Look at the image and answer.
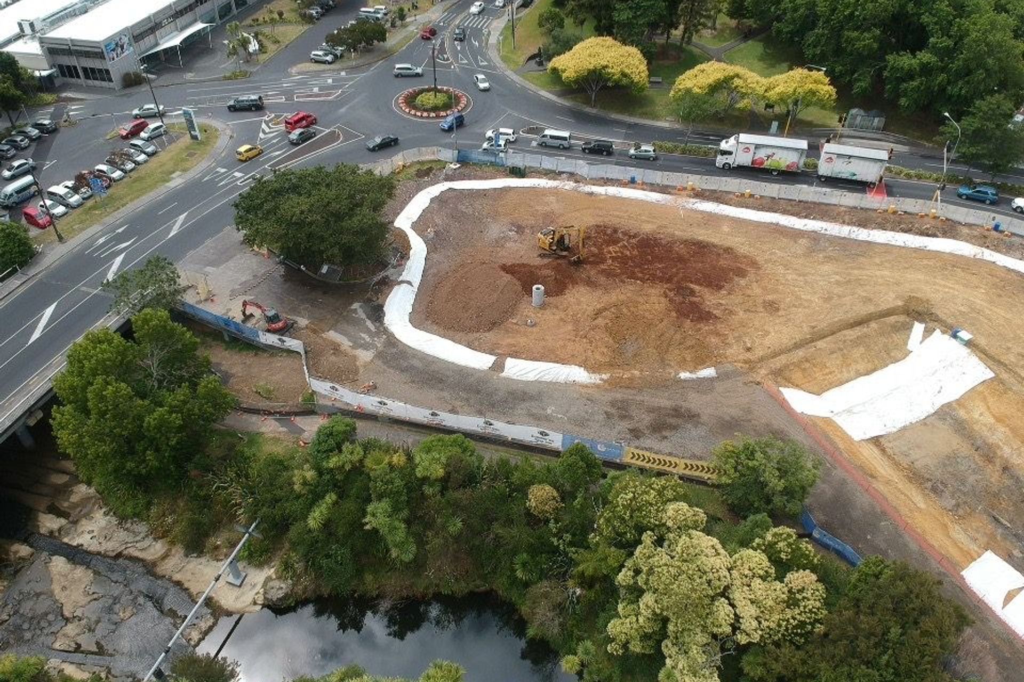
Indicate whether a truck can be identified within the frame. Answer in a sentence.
Yes, you can see a truck in this photo.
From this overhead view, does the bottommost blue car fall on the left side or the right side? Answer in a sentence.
The bottommost blue car is on the right side of the image.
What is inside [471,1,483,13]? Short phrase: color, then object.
white vehicle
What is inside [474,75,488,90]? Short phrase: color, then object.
white car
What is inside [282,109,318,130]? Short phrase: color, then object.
red vehicle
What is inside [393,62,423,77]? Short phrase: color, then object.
gray car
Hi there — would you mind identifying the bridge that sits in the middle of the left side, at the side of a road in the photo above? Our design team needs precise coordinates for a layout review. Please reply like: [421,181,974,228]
[0,263,181,447]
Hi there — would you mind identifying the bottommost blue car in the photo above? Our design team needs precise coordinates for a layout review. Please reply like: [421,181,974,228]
[956,184,999,204]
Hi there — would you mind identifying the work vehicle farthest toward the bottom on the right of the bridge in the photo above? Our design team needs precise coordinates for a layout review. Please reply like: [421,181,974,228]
[246,290,291,331]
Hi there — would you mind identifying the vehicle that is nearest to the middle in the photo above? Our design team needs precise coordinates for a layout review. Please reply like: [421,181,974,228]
[540,220,588,259]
